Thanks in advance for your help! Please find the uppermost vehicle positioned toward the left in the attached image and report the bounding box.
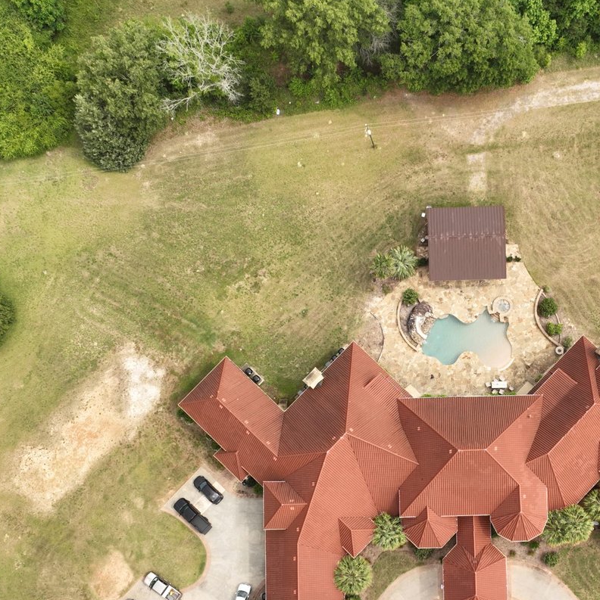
[194,475,227,508]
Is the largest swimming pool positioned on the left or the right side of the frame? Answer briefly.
right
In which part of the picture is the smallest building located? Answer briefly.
right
